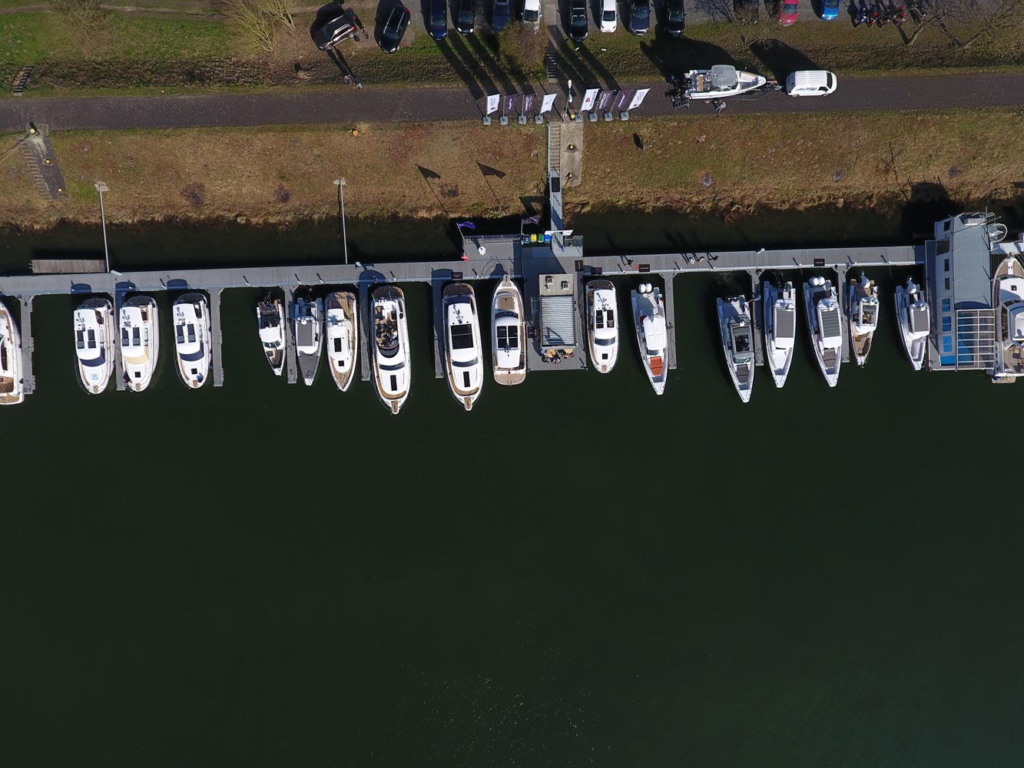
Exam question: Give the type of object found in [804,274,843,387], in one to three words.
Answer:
boat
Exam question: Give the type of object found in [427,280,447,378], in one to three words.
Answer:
pier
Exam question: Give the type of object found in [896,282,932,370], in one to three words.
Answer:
boat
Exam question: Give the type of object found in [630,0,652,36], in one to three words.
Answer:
car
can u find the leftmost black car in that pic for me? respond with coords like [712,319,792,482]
[317,6,361,52]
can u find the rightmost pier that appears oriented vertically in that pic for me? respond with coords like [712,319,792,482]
[831,266,853,363]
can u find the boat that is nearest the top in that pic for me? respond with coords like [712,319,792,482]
[671,67,766,102]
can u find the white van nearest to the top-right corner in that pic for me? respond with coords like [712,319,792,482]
[786,66,838,96]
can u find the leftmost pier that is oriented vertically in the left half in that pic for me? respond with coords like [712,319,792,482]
[14,297,39,394]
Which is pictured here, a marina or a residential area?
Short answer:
marina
